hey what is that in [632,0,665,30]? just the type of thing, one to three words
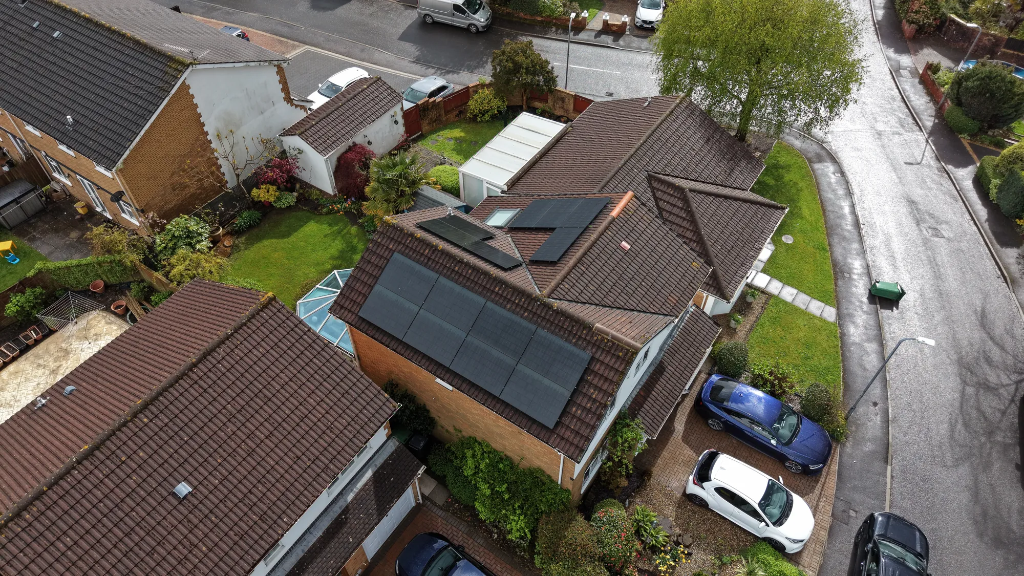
car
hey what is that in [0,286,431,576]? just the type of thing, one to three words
house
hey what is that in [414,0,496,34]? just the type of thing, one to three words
van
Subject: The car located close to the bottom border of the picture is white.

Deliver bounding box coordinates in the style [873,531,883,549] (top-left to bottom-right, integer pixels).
[685,450,820,555]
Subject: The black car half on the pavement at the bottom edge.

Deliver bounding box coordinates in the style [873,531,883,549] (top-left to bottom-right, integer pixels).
[853,506,944,576]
